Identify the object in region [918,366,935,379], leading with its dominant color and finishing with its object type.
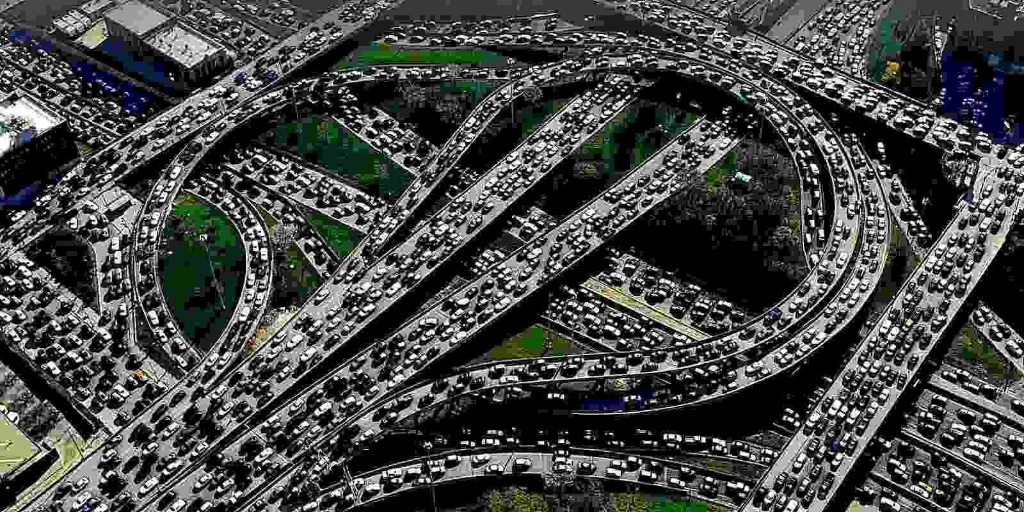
black vehicle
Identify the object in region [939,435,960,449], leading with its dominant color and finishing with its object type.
black car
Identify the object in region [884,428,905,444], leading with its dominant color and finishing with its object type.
black car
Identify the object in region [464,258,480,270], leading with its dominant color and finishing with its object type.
black vehicle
